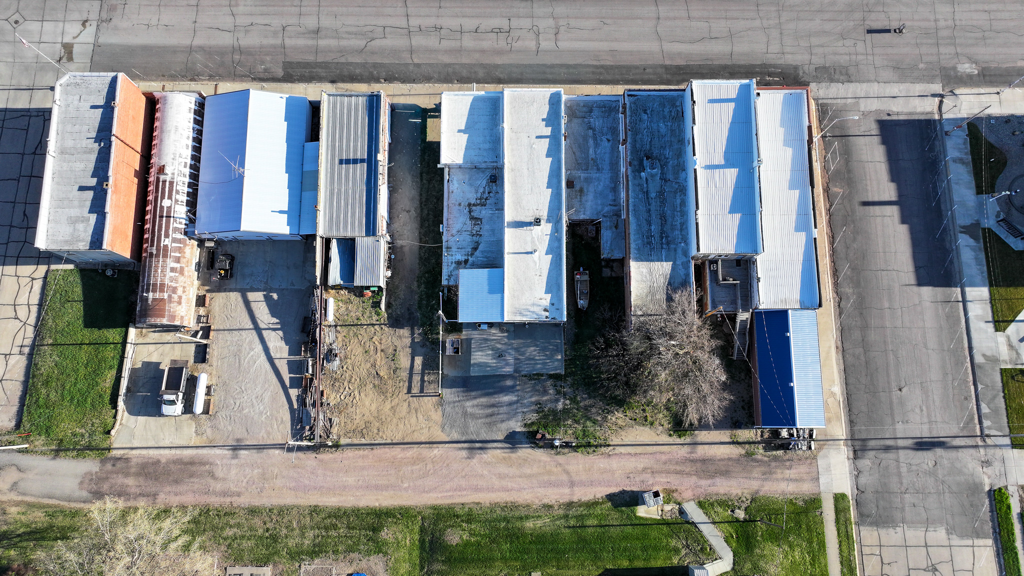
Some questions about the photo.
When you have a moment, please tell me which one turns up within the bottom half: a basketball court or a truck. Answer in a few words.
truck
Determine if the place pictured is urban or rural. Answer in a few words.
urban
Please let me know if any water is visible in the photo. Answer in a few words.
No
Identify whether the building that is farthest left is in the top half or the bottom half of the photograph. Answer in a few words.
top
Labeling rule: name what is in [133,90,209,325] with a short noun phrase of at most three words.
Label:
shed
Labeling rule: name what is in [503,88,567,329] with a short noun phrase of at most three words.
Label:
building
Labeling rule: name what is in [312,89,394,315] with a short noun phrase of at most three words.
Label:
building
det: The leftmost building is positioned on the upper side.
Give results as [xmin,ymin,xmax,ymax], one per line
[36,75,150,264]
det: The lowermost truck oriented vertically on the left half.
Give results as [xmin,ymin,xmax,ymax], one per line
[159,357,193,419]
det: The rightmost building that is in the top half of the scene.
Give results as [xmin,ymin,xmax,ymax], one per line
[752,85,824,312]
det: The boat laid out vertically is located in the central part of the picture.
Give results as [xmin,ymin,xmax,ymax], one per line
[575,267,588,309]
